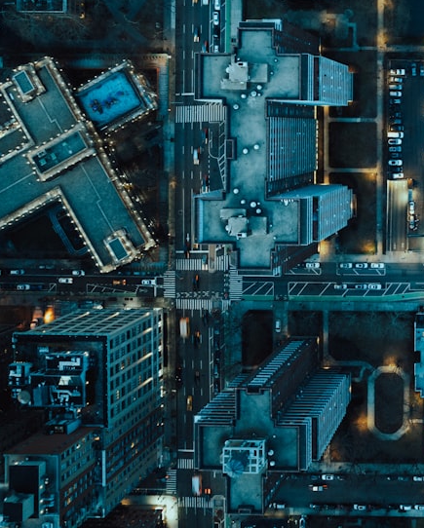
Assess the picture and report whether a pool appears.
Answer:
Yes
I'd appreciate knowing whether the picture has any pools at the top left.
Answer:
Yes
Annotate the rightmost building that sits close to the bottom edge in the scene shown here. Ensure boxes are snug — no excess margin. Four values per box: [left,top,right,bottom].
[196,338,351,514]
